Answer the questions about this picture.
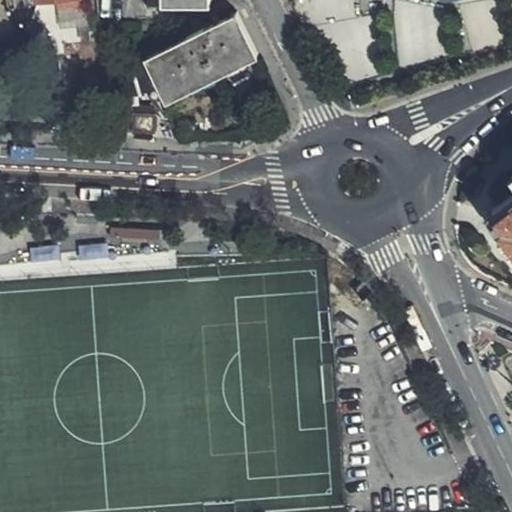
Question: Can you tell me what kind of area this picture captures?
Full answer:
This image shows a sports ground.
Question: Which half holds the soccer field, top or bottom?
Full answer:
It is in the bottom half that the soccer field appears.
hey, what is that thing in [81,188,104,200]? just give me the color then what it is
white vehicle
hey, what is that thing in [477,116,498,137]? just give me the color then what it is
white car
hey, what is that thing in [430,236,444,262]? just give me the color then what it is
white car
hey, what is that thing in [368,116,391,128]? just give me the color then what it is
white vehicle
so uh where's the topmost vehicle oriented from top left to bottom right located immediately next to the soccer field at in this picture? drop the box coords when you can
[336,312,358,330]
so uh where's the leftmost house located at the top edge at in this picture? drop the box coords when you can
[32,0,93,52]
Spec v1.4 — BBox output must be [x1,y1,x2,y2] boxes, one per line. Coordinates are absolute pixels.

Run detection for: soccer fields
[0,258,344,512]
